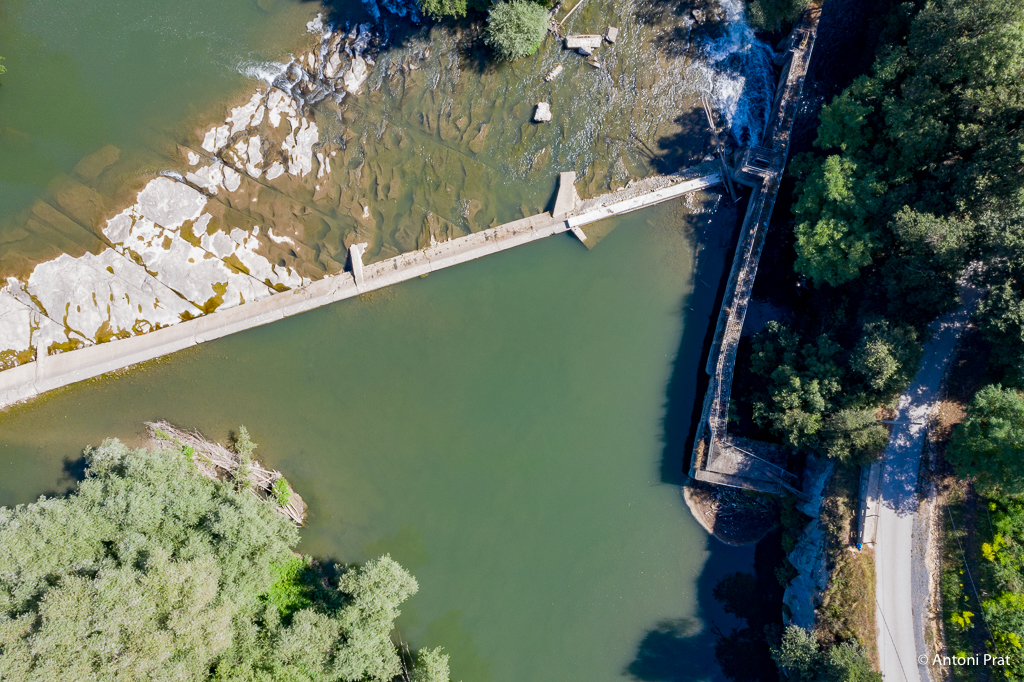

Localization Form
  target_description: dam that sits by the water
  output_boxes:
[0,171,722,410]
